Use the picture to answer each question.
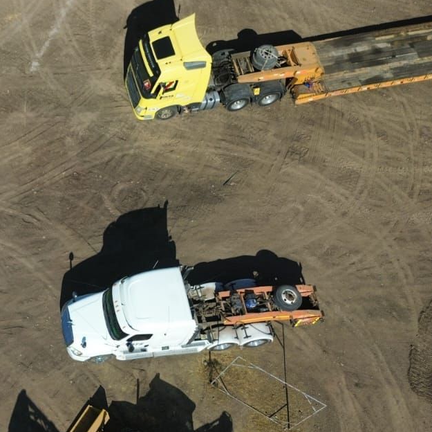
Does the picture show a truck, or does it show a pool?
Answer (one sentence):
This aerial view contains a truck.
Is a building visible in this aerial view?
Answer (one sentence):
No, no building can be seen from above.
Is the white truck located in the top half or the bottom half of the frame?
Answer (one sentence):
The bottom half of the photo is where the white truck is.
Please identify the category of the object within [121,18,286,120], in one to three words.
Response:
truck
